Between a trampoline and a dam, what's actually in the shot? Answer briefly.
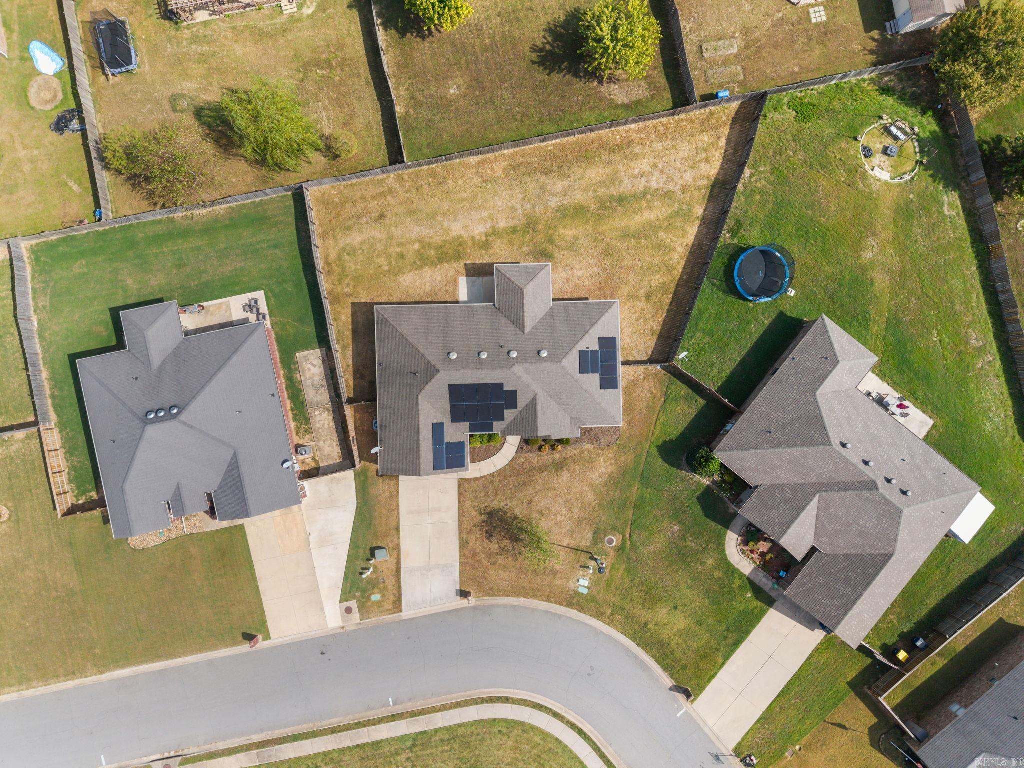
trampoline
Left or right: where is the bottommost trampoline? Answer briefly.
right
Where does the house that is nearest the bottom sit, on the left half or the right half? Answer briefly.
right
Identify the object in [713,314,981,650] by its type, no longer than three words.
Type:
house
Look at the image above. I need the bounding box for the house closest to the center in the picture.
[374,263,623,476]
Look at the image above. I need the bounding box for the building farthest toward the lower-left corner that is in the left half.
[76,300,308,539]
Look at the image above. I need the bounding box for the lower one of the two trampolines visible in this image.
[730,242,797,305]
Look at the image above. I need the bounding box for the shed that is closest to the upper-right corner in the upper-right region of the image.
[883,0,953,34]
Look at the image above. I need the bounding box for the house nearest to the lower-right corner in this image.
[904,634,1024,768]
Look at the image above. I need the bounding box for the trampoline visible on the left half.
[84,8,142,77]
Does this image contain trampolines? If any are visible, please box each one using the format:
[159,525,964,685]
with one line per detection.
[730,242,797,305]
[84,8,142,77]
